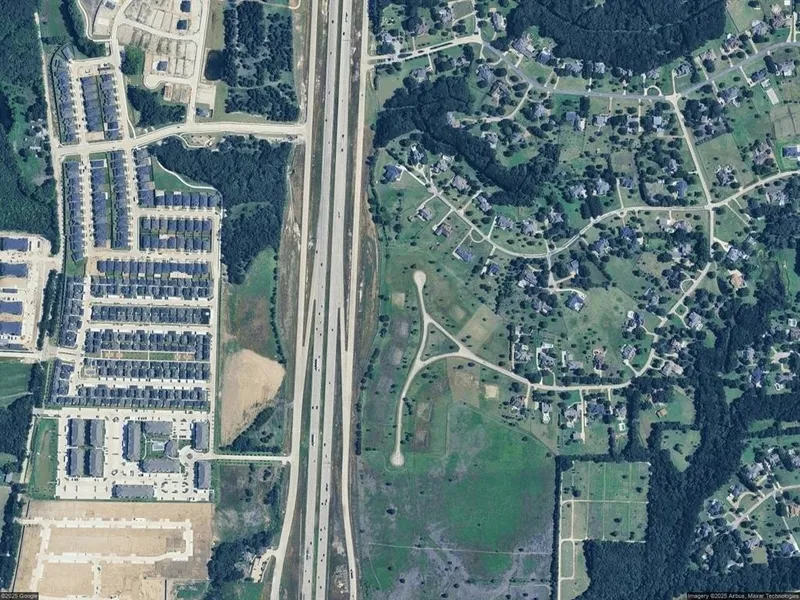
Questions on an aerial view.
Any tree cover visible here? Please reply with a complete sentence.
Yes, tree cover can be seen from above here.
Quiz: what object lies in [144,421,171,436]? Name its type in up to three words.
building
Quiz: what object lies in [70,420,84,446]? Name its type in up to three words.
building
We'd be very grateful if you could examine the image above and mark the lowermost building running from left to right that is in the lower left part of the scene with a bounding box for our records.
[114,485,153,498]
